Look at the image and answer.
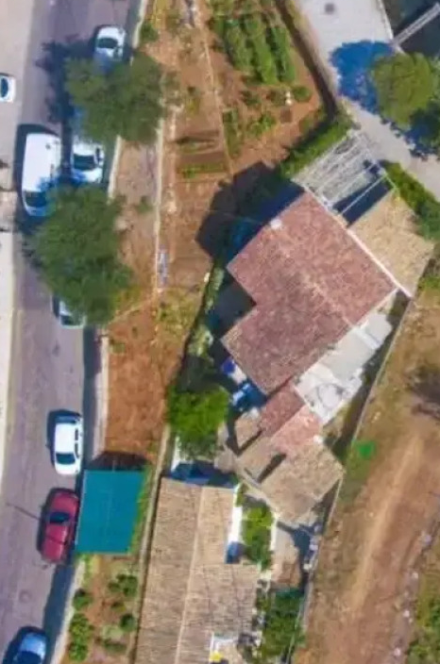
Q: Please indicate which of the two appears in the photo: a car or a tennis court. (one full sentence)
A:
It is a car that can be seen here.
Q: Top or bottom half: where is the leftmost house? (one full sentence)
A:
The bottom half of the photo is where the leftmost house is.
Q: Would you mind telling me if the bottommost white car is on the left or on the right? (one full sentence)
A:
The bottommost white car appears in the left half of the scene.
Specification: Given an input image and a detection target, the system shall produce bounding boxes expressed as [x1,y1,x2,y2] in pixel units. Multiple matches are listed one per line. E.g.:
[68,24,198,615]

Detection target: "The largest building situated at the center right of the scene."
[226,190,427,392]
